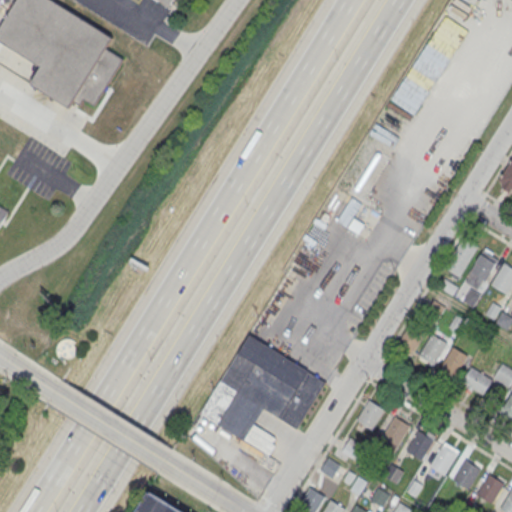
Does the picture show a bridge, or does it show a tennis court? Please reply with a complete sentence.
Looking from above, you can make out a bridge.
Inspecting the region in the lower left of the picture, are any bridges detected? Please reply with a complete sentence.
Yes, a bridge is visible in the lower left of the picture.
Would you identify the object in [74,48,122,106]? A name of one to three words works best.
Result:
building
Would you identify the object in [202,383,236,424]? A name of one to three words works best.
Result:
shed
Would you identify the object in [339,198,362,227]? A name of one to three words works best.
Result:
shed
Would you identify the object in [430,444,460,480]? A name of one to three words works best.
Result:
house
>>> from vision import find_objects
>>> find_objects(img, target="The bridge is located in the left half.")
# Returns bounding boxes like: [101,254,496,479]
[52,383,177,474]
